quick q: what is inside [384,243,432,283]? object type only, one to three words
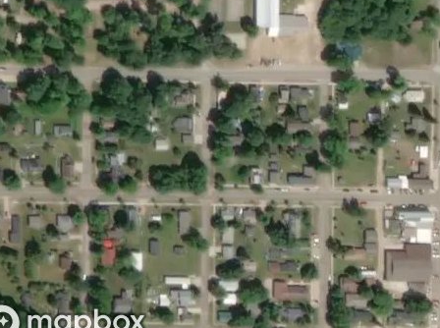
building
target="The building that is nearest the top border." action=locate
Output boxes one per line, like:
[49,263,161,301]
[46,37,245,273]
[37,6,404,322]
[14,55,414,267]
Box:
[279,13,308,37]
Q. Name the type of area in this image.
residential area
